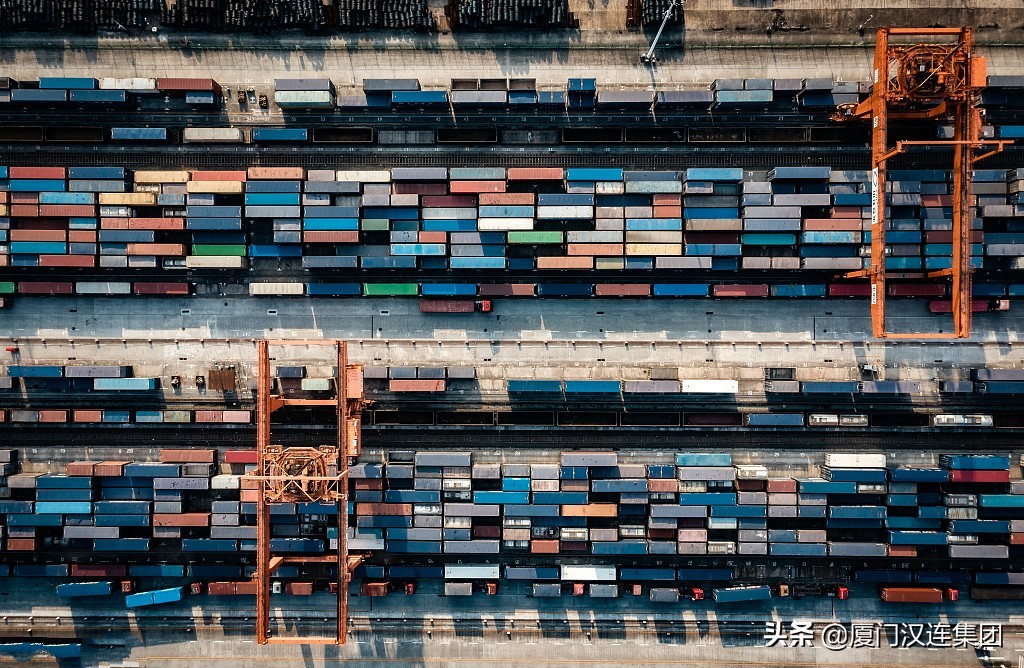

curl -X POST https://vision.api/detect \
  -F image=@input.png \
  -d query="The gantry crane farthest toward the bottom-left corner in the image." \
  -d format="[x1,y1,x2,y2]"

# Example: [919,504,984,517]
[239,340,384,644]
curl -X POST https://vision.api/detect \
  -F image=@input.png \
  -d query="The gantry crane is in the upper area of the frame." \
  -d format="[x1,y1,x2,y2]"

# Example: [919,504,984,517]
[832,27,1014,339]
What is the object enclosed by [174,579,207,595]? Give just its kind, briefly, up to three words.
vehicle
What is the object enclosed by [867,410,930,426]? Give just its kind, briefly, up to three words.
rail car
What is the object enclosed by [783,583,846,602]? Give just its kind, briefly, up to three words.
vehicle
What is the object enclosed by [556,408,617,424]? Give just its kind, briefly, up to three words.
rail car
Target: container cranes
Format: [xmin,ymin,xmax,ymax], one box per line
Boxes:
[832,27,1014,339]
[239,340,384,644]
